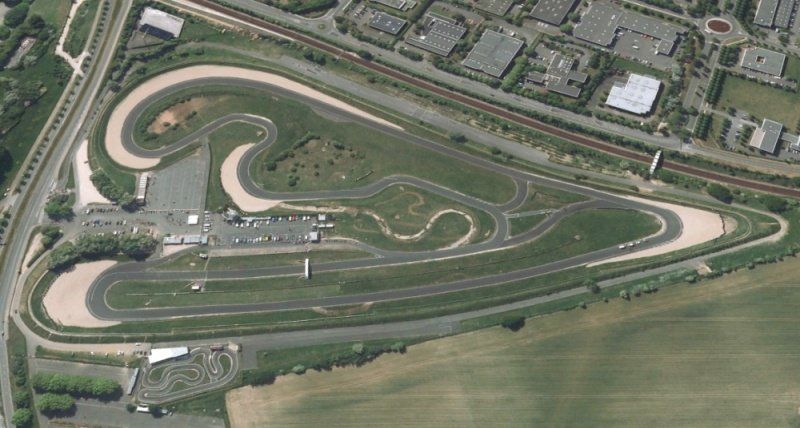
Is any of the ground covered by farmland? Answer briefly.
Yes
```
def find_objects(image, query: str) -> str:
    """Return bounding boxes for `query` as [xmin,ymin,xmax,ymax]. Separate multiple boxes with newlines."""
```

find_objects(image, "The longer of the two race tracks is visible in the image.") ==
[43,65,737,326]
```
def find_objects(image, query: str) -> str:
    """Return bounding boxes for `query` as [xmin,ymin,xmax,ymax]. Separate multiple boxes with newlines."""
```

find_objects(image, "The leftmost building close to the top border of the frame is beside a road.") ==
[138,6,184,40]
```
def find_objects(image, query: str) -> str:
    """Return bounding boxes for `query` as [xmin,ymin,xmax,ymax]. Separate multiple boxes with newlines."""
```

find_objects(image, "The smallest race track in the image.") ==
[138,347,239,402]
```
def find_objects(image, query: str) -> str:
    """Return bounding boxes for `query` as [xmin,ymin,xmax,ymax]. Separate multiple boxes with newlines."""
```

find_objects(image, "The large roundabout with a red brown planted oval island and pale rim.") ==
[695,11,746,45]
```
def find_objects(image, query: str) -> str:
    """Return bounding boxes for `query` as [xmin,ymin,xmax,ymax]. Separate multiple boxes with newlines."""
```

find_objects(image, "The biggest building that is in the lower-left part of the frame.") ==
[148,347,188,364]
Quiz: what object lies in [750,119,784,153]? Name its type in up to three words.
building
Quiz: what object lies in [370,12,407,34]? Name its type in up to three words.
building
